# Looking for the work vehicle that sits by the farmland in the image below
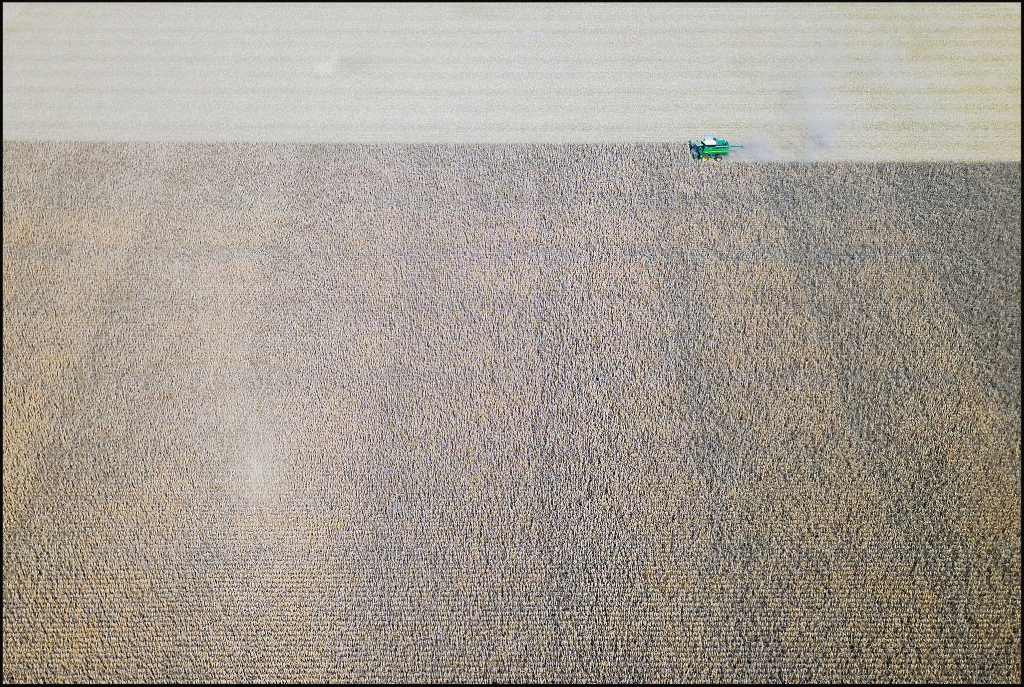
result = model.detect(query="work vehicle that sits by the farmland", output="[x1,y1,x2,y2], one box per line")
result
[682,135,744,168]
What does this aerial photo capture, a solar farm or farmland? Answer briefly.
farmland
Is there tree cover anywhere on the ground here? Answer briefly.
No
